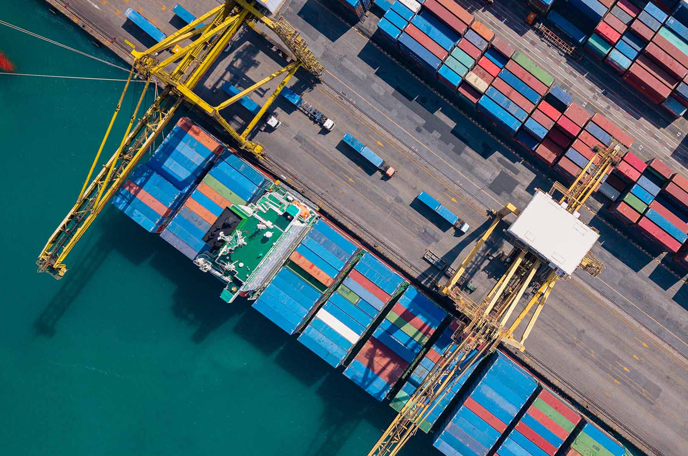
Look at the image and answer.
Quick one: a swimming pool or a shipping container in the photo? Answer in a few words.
shipping container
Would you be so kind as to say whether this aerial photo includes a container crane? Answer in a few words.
Yes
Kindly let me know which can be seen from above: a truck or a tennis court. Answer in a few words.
truck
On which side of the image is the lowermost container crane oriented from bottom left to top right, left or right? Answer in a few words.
right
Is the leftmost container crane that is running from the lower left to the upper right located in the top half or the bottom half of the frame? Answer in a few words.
top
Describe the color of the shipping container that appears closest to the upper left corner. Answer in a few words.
blue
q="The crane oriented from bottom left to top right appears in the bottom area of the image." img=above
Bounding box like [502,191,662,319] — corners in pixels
[365,141,628,456]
